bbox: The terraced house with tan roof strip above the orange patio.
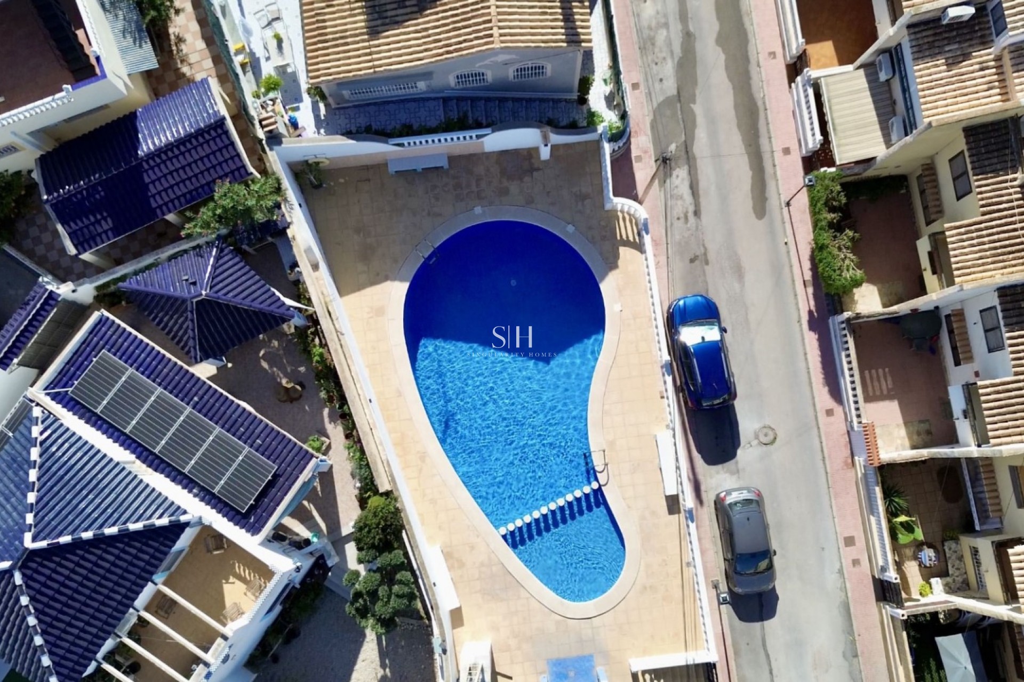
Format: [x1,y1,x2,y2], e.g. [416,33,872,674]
[875,0,934,35]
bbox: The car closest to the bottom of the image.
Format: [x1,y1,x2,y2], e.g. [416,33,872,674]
[712,485,781,599]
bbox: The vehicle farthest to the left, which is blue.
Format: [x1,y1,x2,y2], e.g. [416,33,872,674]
[666,295,734,412]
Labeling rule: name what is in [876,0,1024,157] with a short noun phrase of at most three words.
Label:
house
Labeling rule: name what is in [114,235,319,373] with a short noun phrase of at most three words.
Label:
gazebo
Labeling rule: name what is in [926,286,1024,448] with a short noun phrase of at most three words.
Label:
house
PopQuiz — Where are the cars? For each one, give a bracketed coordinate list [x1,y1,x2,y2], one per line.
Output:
[712,485,781,599]
[666,295,734,412]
